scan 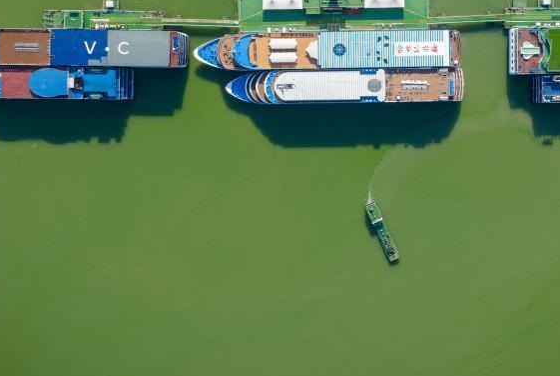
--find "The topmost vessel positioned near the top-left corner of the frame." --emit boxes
[0,30,191,68]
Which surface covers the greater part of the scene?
water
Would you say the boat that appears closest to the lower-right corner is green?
Yes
